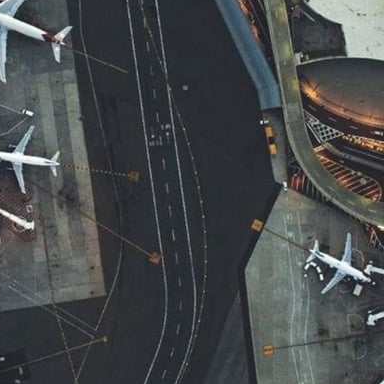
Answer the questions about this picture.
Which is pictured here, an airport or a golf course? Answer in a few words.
airport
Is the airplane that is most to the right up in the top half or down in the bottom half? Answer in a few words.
bottom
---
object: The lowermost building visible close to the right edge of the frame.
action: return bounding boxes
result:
[296,58,384,123]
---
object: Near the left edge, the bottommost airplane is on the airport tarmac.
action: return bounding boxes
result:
[0,124,62,194]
